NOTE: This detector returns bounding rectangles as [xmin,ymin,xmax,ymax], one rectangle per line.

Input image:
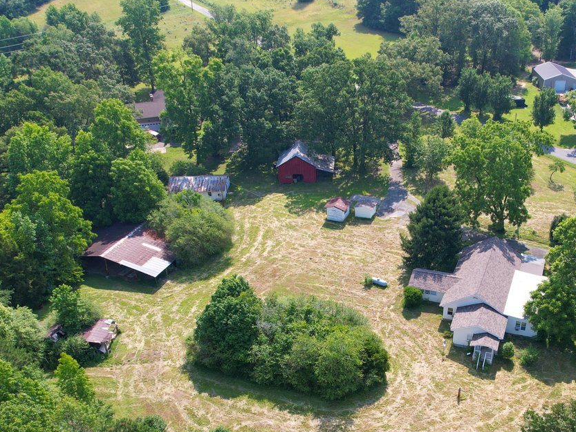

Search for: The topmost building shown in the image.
[537,62,576,92]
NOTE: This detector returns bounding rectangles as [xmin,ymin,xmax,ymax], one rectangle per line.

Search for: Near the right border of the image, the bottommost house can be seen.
[410,234,553,370]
